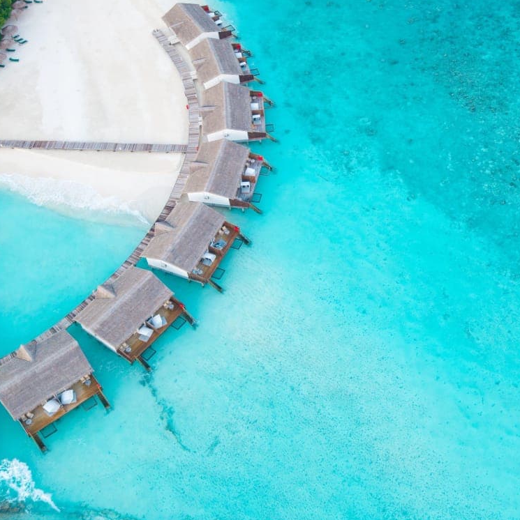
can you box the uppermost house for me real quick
[160,3,246,53]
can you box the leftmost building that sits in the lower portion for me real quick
[0,330,112,455]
